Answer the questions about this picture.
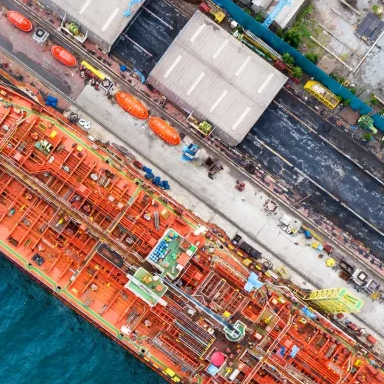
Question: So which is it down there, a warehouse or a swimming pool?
warehouse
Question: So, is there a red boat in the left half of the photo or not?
Yes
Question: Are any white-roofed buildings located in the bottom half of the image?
No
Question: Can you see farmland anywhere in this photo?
No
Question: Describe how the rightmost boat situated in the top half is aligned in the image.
on a diagonal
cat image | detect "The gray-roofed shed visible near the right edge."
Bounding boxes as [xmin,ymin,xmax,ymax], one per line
[354,10,384,45]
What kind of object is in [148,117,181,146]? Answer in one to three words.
boat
